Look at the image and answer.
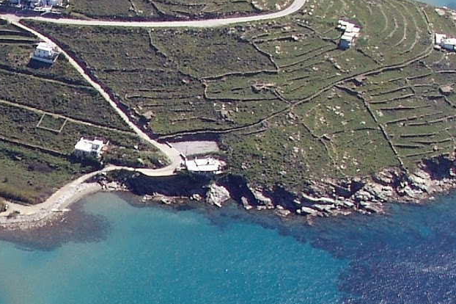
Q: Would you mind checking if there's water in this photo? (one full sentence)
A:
Yes, there's water in this view.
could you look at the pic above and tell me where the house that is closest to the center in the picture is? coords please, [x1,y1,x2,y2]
[184,158,219,179]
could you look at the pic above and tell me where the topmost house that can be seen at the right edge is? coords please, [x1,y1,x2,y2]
[432,33,456,53]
